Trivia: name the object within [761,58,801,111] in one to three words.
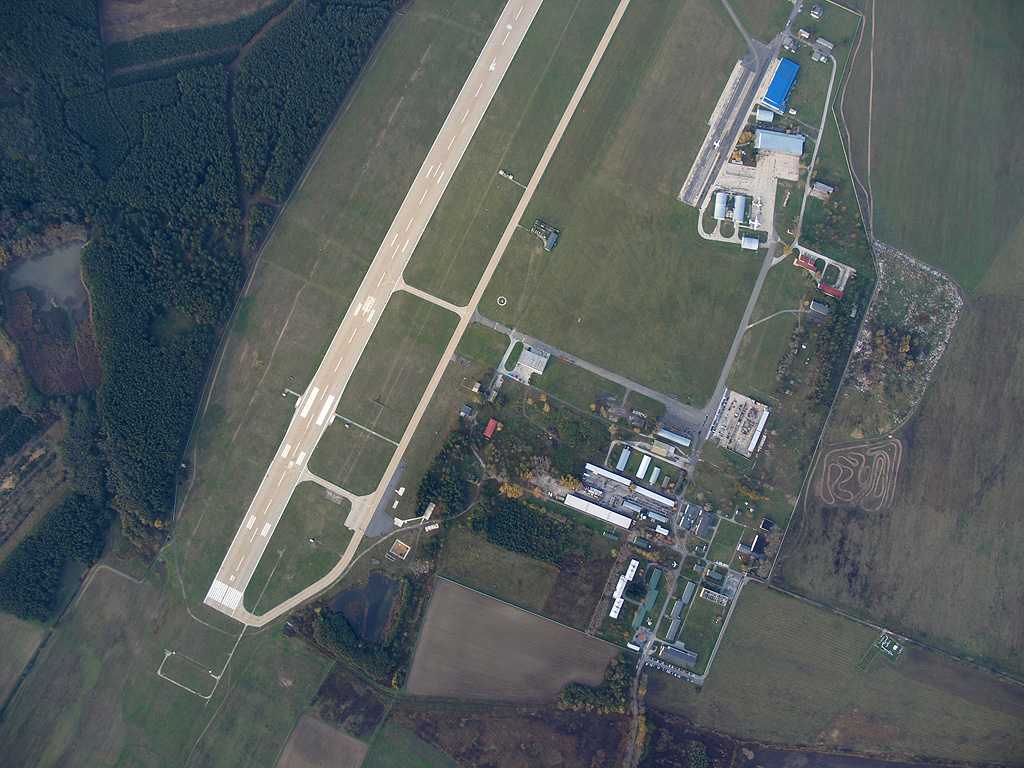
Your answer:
hangar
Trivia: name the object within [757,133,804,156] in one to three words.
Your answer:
hangar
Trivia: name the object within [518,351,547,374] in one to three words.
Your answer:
building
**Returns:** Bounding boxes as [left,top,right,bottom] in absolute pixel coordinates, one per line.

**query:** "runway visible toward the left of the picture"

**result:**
[204,0,543,617]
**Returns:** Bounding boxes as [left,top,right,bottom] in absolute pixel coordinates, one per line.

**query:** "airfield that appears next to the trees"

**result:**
[204,0,802,627]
